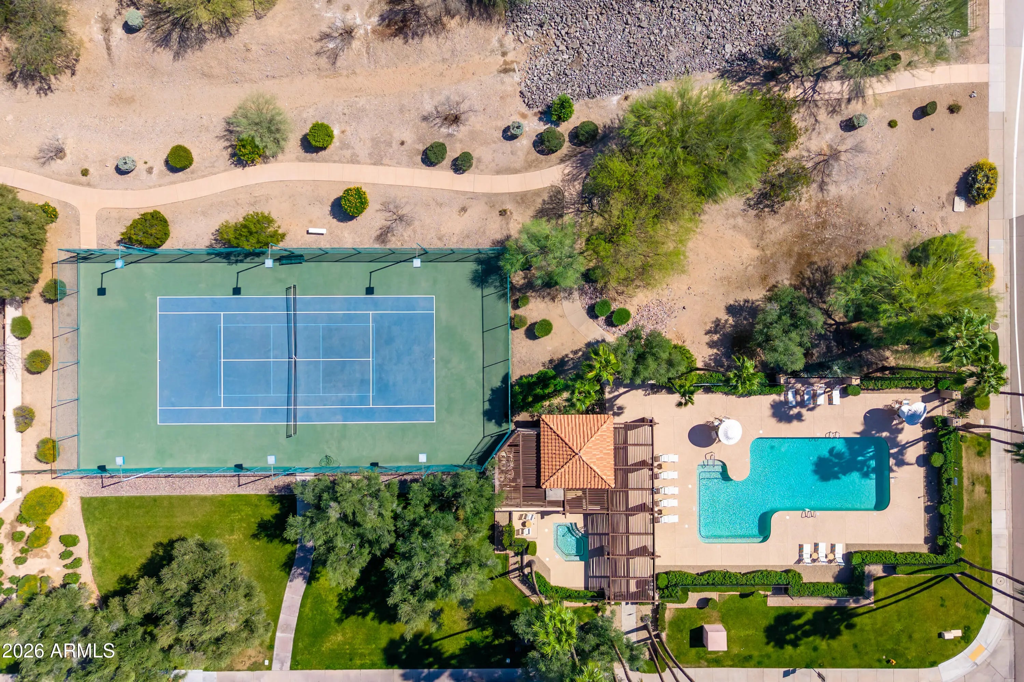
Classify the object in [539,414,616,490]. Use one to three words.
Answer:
building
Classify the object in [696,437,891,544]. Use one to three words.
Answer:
swimming pool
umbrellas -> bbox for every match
[716,417,743,446]
[901,400,928,428]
